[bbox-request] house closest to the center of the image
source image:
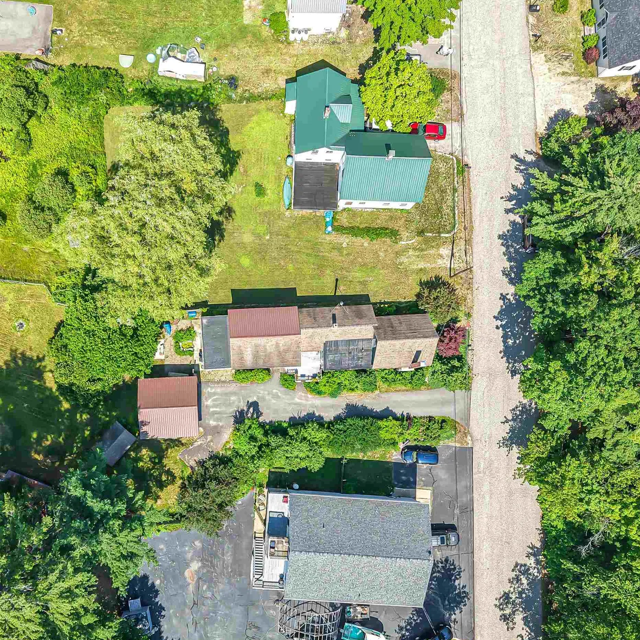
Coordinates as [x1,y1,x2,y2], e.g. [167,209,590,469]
[201,305,439,372]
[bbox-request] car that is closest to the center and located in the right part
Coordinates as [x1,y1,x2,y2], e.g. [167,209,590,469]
[403,449,441,469]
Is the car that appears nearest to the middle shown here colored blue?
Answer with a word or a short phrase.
Yes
